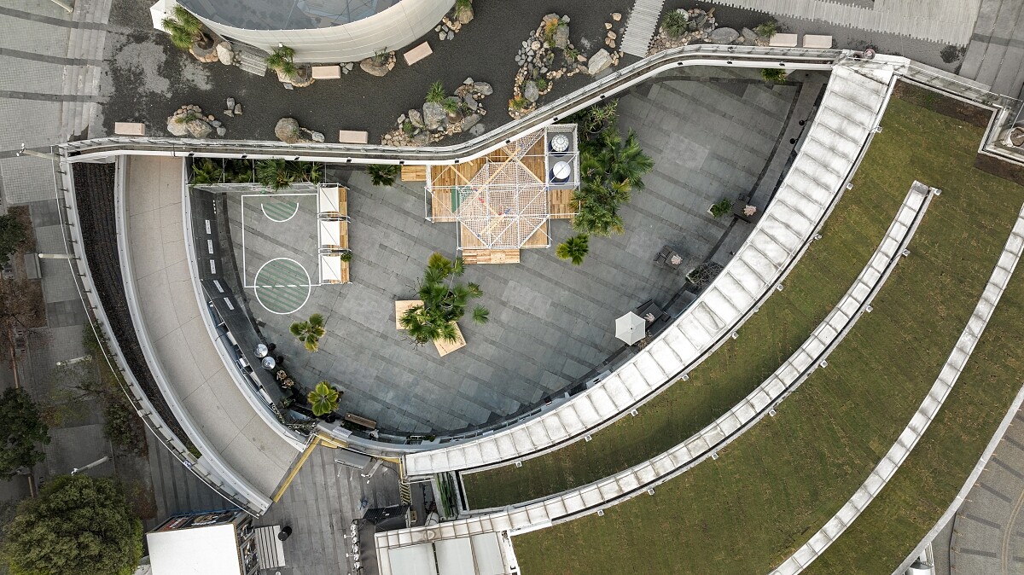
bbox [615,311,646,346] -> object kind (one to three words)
umbrella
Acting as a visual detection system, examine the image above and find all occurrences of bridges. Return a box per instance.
[56,44,841,168]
